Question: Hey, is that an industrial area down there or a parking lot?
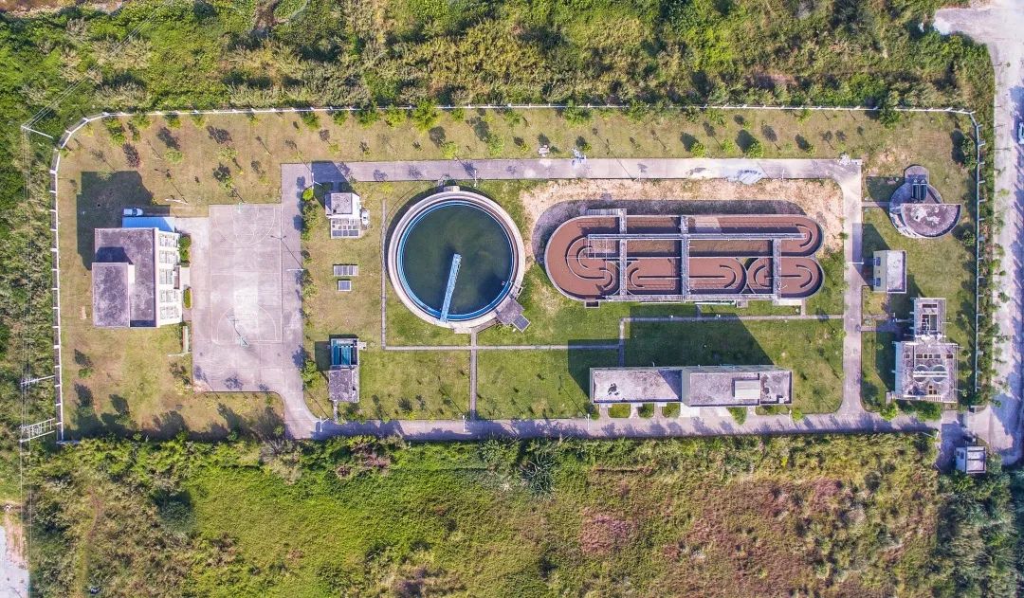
industrial area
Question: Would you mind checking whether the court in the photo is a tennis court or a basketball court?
basketball court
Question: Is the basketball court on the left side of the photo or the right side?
left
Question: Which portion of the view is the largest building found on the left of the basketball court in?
left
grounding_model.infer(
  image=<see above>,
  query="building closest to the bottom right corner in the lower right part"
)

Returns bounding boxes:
[955,443,987,473]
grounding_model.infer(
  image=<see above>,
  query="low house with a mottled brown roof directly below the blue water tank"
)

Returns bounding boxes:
[329,368,361,402]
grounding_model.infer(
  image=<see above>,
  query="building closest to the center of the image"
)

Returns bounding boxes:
[472,286,526,336]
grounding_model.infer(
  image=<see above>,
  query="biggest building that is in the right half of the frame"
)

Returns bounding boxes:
[590,365,796,406]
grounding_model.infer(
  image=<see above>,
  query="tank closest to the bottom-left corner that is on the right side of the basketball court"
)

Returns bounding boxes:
[330,338,367,369]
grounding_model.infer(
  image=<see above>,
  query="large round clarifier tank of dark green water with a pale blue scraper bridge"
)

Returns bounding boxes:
[388,179,526,333]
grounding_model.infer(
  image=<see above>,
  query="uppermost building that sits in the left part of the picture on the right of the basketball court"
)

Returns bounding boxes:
[325,193,361,218]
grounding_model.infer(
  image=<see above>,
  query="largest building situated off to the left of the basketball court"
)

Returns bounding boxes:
[92,228,190,328]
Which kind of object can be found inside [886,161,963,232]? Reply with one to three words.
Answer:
building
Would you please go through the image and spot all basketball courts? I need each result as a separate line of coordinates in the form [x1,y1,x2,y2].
[192,205,282,391]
